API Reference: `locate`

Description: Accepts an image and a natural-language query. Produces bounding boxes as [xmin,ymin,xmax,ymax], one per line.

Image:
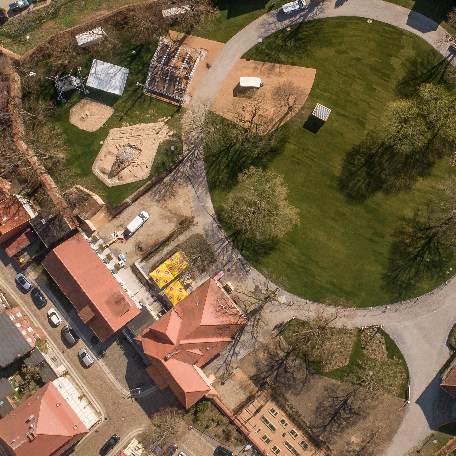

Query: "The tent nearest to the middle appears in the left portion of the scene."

[165,251,188,277]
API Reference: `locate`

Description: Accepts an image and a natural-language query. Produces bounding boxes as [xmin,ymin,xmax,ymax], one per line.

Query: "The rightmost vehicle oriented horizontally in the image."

[279,0,310,17]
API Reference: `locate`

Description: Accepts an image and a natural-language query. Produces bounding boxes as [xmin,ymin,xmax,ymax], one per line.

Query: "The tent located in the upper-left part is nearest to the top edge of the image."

[86,59,132,95]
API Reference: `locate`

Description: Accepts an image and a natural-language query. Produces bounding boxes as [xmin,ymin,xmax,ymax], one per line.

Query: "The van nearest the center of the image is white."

[121,208,153,238]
